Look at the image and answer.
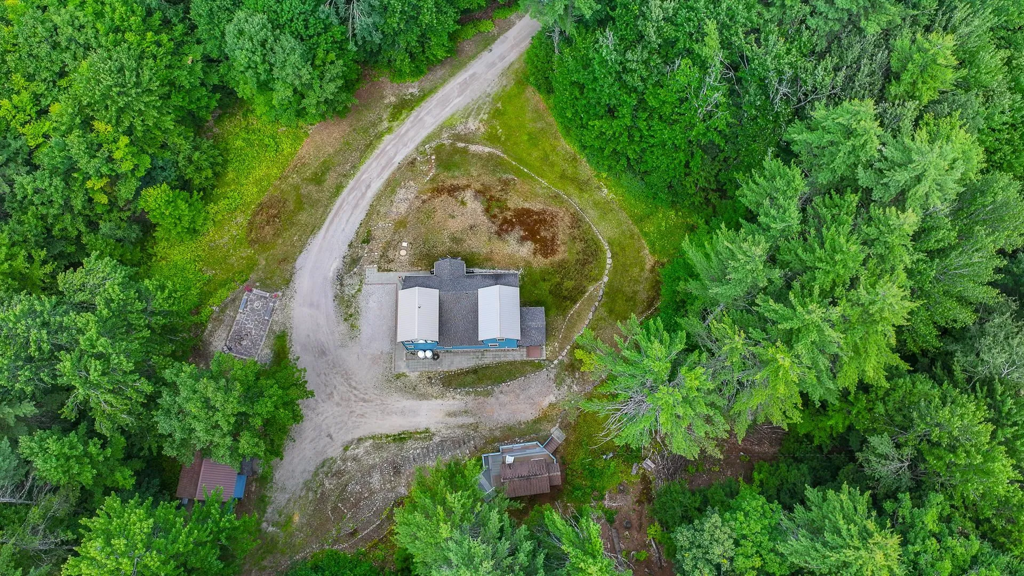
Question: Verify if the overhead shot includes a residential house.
Yes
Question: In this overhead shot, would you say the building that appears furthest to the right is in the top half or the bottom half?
bottom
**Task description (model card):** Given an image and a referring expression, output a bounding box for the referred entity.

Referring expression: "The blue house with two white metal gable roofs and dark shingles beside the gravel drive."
[395,256,546,351]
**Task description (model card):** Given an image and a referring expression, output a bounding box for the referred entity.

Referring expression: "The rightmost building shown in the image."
[479,427,565,501]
